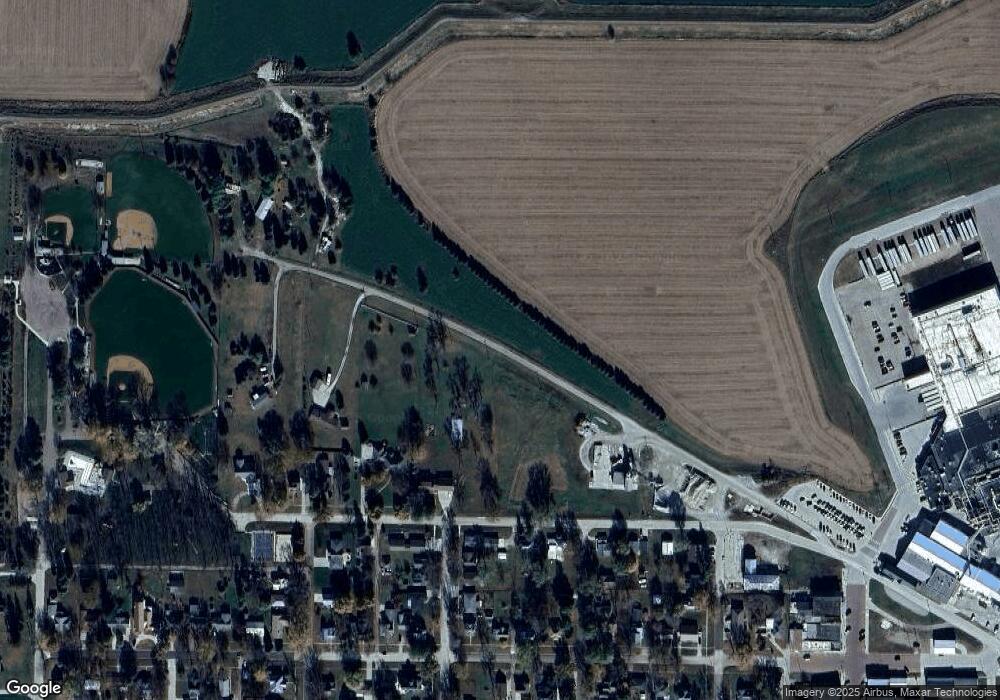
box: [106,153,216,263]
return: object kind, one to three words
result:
baseball field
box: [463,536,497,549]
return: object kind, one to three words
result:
house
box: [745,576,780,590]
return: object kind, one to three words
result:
building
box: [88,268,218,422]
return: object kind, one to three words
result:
baseball field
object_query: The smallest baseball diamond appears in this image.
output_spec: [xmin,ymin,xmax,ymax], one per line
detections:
[42,184,100,251]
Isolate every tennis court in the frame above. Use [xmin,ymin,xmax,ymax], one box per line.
[252,531,274,562]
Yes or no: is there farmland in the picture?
Yes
